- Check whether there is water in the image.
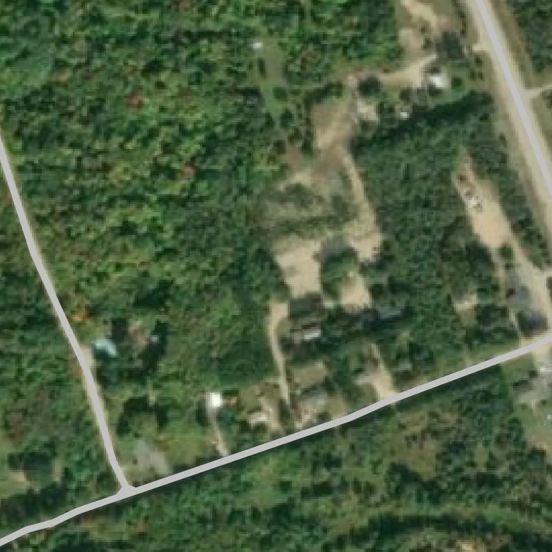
No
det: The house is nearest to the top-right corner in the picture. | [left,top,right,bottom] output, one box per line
[439,29,461,56]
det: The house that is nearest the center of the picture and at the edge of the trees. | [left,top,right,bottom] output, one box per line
[292,329,320,342]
